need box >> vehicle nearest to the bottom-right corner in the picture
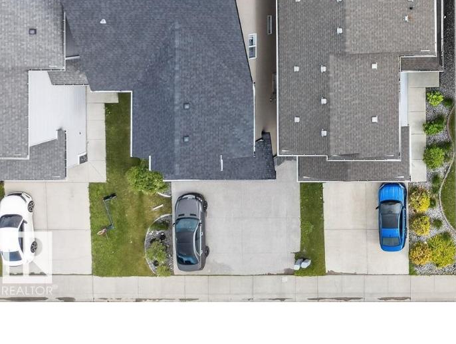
[374,181,409,252]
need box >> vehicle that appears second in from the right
[170,190,210,270]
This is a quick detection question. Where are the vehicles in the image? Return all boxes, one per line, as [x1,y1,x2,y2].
[0,189,39,266]
[170,190,210,270]
[374,181,409,252]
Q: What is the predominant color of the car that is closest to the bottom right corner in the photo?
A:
blue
